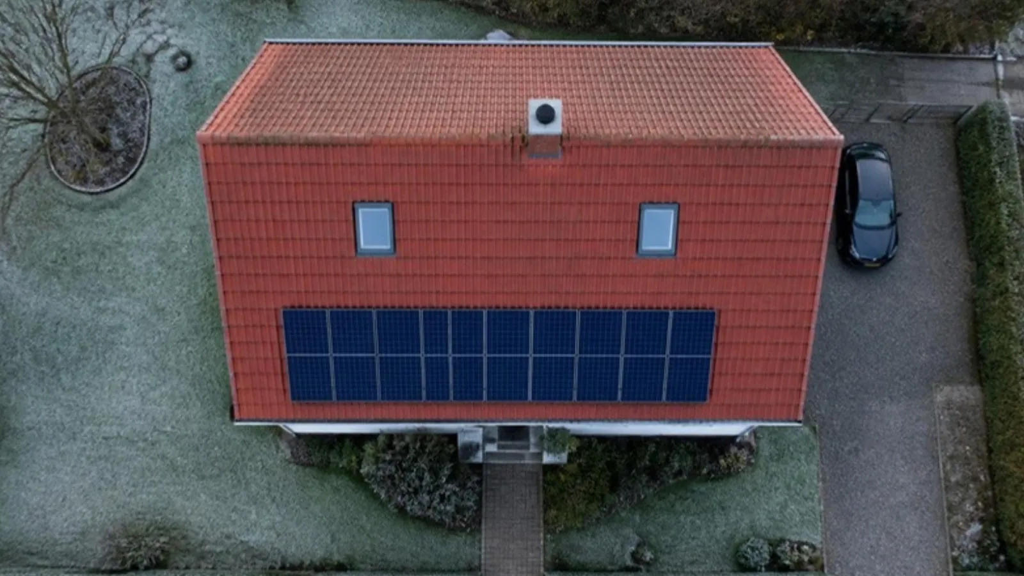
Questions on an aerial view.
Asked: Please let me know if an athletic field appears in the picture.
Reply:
No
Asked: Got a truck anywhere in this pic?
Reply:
No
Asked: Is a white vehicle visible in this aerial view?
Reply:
No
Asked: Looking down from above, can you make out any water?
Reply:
No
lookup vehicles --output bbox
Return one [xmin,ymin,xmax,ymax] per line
[835,140,905,265]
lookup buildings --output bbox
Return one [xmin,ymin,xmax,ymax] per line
[198,38,843,441]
